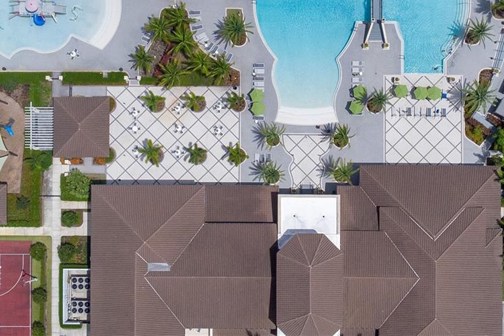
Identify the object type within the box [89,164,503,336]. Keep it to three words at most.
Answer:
building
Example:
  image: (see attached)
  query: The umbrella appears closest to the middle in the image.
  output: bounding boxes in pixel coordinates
[251,103,265,116]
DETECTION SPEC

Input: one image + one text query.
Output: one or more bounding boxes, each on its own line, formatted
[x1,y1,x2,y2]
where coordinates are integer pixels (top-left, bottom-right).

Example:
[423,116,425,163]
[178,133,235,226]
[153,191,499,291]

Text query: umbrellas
[426,87,440,100]
[394,85,407,98]
[414,86,427,100]
[251,89,265,102]
[251,103,265,116]
[352,85,365,99]
[350,102,363,114]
